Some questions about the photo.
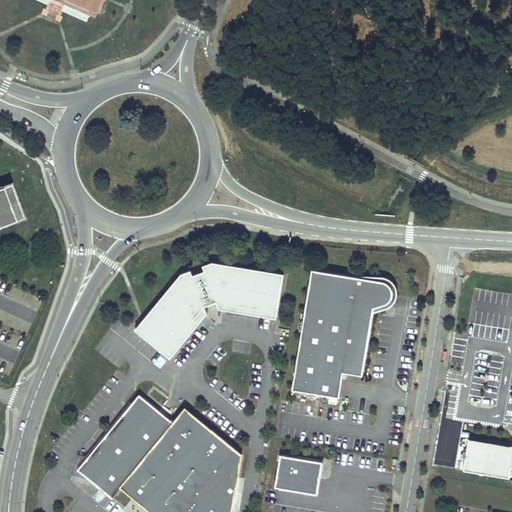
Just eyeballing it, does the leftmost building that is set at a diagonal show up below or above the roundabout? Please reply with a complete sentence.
The leftmost building that is set at a diagonal is below the roundabout.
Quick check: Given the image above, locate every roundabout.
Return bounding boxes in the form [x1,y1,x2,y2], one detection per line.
[54,72,221,238]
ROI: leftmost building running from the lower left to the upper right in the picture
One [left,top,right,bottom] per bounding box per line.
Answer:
[77,396,171,500]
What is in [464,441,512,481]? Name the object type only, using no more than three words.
building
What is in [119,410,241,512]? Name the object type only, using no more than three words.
building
